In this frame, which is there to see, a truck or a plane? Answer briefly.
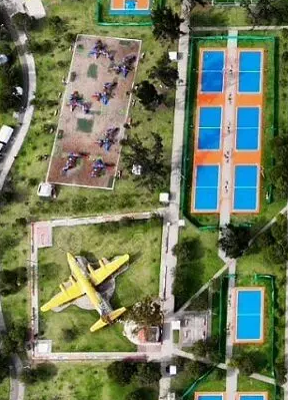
plane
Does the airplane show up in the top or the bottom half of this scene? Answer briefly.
bottom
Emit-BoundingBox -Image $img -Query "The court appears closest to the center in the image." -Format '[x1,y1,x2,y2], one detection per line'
[190,157,226,213]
